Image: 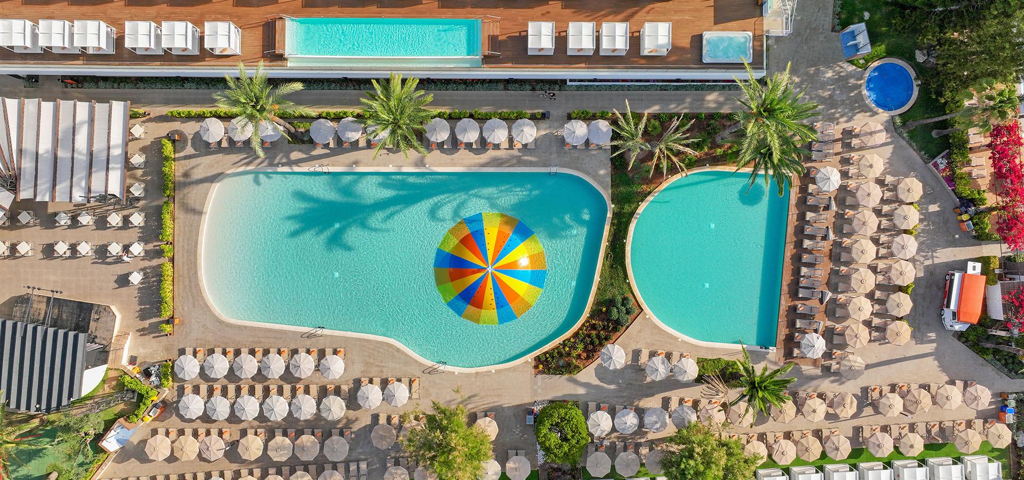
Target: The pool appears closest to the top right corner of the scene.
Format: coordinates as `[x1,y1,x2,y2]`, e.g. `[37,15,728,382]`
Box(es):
[867,63,914,110]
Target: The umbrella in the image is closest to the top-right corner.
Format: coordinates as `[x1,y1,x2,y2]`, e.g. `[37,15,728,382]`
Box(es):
[859,119,886,145]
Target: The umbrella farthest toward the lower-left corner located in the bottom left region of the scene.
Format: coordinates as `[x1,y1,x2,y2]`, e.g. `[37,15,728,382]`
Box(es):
[144,434,170,459]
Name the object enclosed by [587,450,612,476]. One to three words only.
umbrella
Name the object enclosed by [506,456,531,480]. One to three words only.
umbrella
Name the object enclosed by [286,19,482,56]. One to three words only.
swimming pool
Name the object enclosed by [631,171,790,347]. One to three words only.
swimming pool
